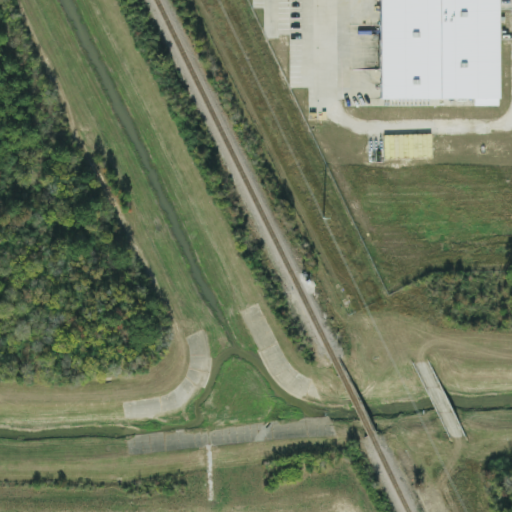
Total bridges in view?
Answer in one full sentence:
The picture shows 2 bridges.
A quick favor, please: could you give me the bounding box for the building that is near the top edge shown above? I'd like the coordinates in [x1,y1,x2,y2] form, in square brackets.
[381,0,503,106]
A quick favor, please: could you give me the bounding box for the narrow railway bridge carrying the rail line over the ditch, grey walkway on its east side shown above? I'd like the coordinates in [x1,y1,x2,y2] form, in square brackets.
[328,353,377,440]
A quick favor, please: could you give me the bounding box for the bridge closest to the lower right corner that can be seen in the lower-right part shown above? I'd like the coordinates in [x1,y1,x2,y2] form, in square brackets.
[414,356,464,442]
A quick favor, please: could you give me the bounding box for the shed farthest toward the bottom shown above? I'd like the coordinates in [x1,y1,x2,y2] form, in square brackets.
[385,134,432,160]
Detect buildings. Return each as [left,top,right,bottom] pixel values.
[381,0,503,106]
[385,134,432,160]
